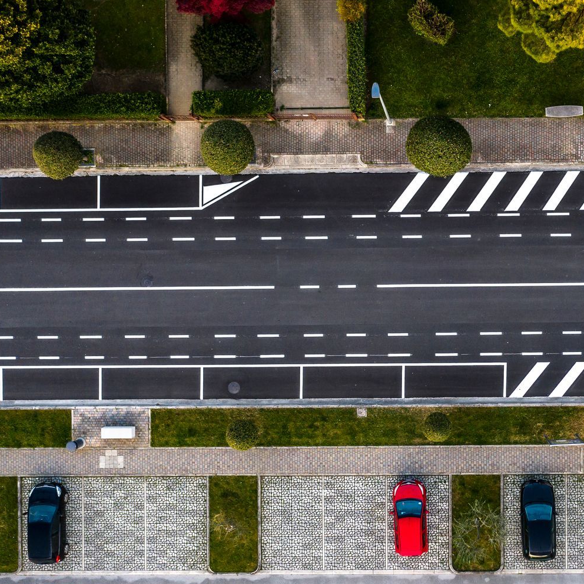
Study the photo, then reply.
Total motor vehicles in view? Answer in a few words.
three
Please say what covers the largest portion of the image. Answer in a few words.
paved ground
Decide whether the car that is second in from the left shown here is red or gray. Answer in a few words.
red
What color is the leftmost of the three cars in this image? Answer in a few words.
black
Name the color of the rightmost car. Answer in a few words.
black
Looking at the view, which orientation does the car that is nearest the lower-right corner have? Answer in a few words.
from top to bottom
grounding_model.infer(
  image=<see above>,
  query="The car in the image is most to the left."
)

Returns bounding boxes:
[21,480,70,565]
